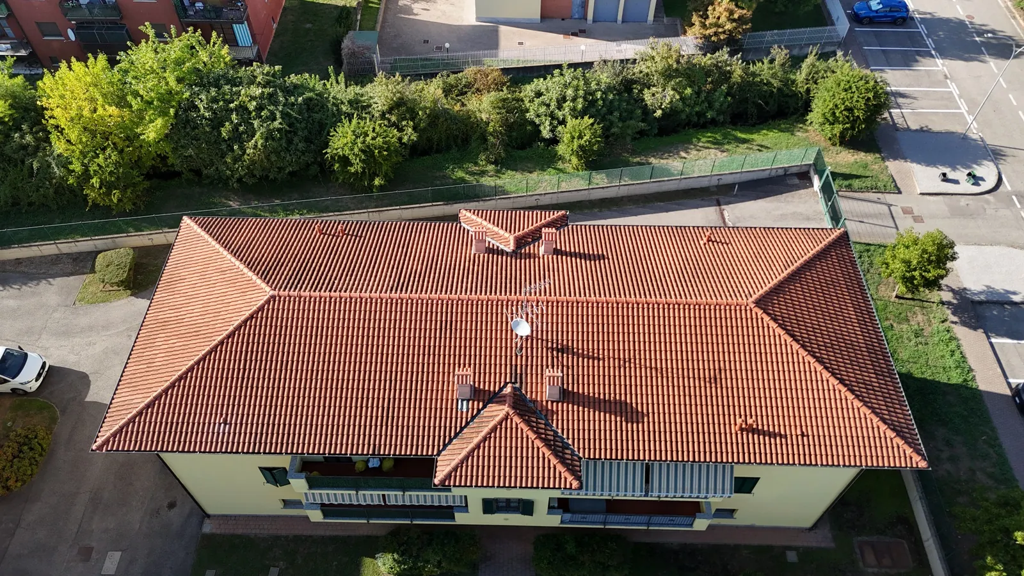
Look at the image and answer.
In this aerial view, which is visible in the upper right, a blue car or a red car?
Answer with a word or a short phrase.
blue car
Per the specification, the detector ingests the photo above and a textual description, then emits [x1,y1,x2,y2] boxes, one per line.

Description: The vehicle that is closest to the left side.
[0,343,46,390]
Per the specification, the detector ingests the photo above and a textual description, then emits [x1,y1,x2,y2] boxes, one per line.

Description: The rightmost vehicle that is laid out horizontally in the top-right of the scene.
[852,0,914,25]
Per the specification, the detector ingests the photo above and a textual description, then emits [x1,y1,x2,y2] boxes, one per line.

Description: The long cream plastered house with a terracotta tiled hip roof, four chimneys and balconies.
[90,207,931,530]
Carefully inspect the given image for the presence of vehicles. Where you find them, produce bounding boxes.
[852,0,914,25]
[0,343,46,390]
[1007,381,1024,414]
